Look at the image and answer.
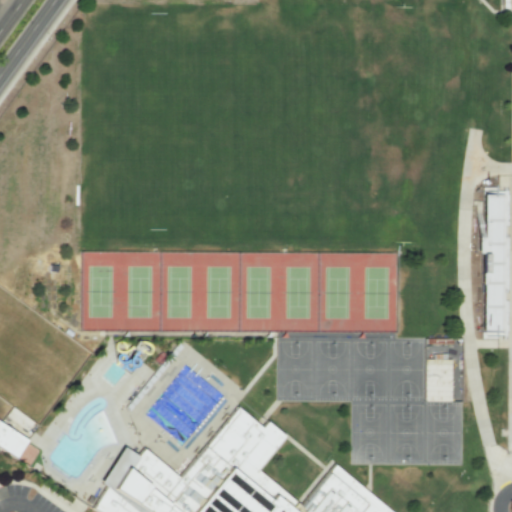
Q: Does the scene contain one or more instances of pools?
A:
Yes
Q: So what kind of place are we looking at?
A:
sports ground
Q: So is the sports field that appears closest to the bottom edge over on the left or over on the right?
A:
left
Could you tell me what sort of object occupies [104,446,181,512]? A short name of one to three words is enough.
building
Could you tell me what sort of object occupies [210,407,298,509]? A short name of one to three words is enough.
building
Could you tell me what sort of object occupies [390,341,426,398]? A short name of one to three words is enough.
basketball court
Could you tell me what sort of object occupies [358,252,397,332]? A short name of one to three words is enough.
tennis court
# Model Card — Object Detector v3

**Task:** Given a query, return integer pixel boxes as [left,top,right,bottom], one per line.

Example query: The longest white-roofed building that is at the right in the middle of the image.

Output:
[483,188,511,340]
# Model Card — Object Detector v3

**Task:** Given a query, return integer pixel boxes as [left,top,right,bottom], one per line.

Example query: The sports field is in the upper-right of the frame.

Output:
[332,6,455,248]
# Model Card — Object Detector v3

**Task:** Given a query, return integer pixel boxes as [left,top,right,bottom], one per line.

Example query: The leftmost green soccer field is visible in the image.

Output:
[84,6,330,248]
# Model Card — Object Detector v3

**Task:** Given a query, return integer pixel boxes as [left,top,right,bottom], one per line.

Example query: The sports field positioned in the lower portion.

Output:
[0,288,91,424]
